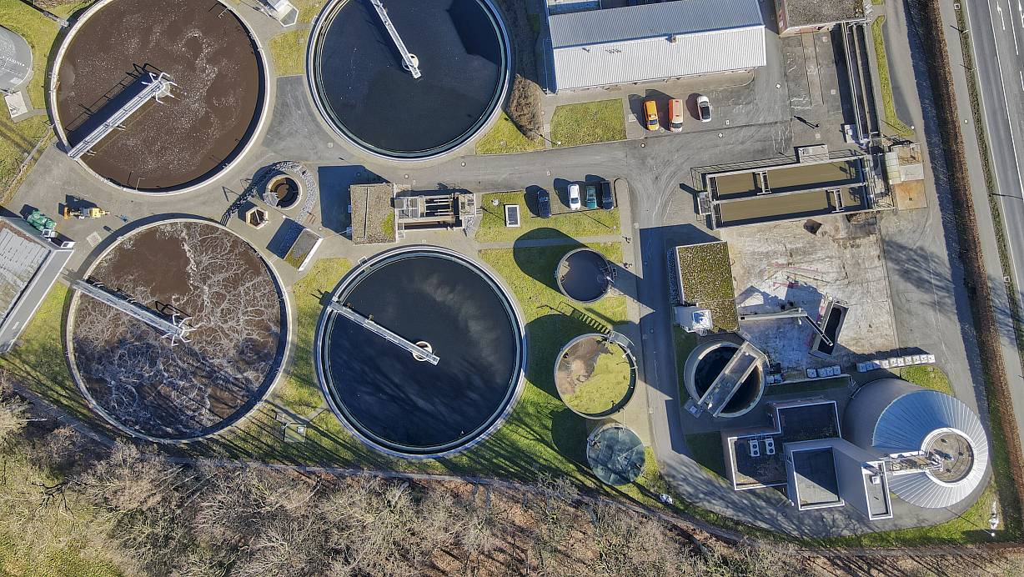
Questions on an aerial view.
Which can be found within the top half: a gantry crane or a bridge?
bridge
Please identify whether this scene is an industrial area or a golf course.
industrial area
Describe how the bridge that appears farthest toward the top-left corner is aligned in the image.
at an angle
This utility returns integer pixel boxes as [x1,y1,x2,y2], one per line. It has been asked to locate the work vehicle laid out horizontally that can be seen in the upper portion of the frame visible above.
[64,206,109,219]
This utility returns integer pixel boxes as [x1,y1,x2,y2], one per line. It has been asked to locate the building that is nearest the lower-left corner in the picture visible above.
[0,224,83,363]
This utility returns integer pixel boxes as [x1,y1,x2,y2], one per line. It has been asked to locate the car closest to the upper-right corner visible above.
[696,93,713,122]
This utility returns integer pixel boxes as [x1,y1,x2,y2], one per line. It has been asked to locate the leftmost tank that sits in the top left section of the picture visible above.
[0,22,38,101]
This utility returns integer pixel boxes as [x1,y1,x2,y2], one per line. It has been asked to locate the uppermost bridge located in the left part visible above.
[370,0,421,81]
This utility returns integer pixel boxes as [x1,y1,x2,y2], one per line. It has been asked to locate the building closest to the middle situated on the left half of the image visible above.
[342,183,402,245]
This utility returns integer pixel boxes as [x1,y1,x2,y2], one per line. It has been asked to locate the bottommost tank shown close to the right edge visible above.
[842,380,995,508]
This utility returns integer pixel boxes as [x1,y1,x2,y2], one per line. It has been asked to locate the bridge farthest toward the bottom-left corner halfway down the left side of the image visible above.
[70,281,188,341]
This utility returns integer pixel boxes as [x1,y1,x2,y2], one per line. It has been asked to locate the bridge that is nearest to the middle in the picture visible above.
[321,297,440,365]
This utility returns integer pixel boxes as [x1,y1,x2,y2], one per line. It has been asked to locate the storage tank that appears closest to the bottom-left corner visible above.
[55,218,292,442]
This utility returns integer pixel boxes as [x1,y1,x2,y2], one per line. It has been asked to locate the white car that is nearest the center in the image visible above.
[568,183,582,210]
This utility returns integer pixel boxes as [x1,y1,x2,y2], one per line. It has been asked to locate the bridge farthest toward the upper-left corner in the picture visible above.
[65,77,168,160]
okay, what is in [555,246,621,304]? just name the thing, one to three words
storage tank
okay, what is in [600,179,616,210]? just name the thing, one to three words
car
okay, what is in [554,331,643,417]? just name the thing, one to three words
storage tank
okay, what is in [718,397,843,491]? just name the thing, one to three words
building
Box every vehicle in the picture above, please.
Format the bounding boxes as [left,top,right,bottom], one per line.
[585,184,599,209]
[696,93,713,122]
[64,206,109,219]
[600,179,616,210]
[644,97,661,130]
[536,188,551,217]
[668,96,684,132]
[568,183,582,210]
